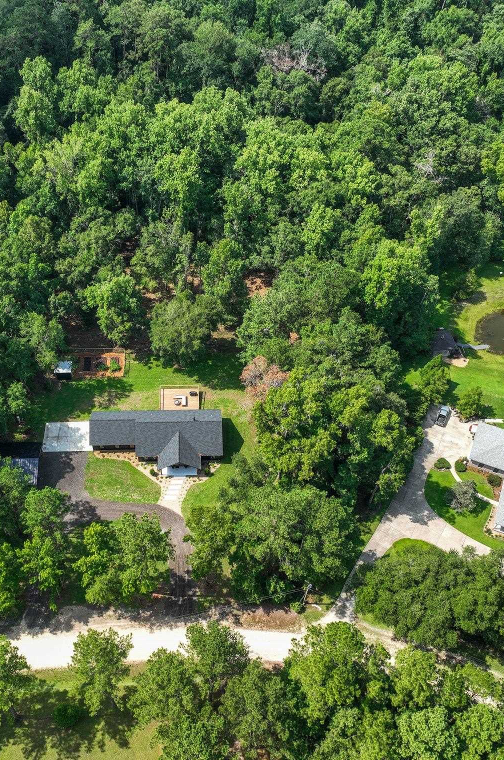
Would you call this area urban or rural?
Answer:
rural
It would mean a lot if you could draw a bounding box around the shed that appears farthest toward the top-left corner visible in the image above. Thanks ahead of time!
[53,361,73,380]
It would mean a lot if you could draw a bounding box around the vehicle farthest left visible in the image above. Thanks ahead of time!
[433,402,453,427]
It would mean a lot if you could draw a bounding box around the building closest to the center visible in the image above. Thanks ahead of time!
[89,410,223,480]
